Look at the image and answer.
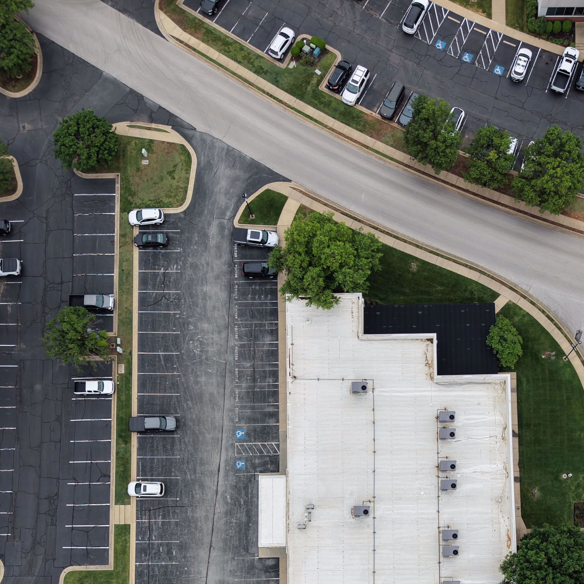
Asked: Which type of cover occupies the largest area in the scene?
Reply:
paved ground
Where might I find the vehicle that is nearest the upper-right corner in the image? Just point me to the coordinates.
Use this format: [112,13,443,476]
[550,45,581,96]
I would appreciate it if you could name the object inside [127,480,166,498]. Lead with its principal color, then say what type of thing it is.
white car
